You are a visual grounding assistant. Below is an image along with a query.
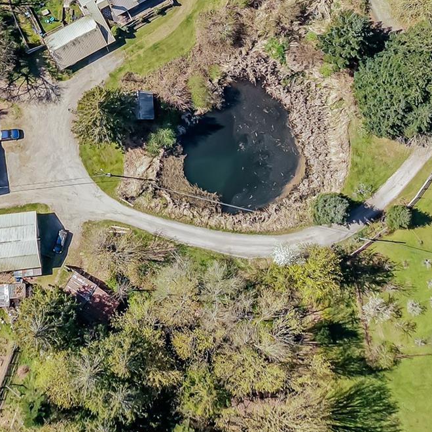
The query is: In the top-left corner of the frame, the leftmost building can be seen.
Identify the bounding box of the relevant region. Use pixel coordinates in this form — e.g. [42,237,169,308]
[44,15,105,70]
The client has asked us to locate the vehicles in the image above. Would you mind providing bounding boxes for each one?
[0,129,24,142]
[52,227,68,256]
